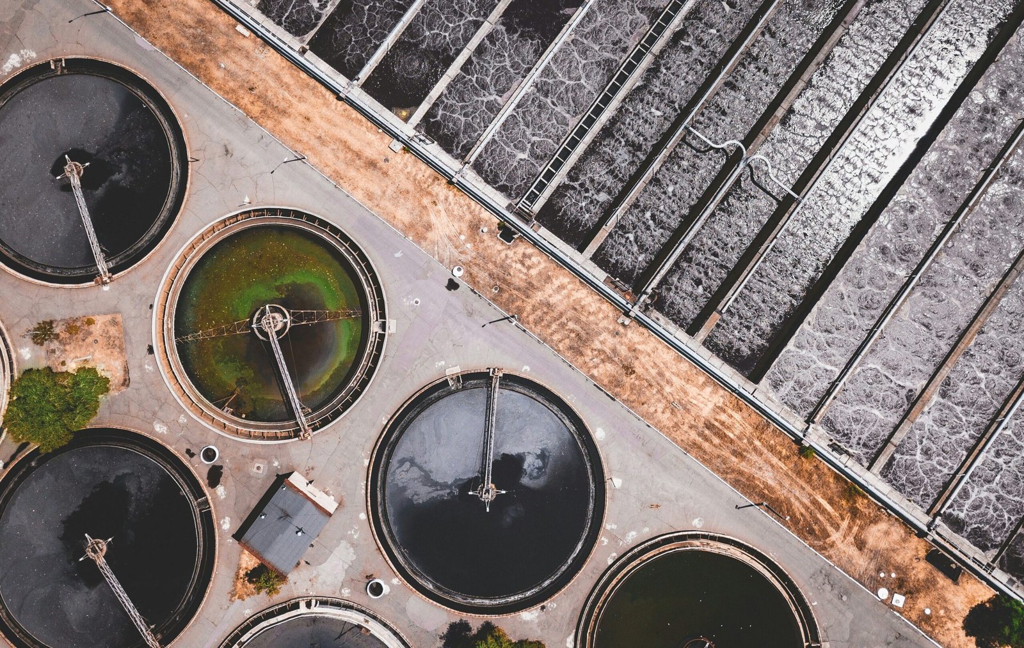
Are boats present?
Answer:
No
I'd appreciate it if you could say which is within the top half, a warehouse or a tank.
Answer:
tank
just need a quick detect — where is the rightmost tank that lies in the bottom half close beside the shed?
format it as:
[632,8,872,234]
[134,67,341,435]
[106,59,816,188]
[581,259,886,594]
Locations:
[362,368,610,614]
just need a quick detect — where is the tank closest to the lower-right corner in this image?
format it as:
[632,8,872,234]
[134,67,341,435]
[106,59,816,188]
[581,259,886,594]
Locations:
[576,531,822,648]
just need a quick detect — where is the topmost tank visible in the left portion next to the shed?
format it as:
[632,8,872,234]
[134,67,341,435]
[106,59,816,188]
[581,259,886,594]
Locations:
[151,207,398,444]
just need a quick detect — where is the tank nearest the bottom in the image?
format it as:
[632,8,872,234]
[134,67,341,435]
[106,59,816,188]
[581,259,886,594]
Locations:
[219,596,413,648]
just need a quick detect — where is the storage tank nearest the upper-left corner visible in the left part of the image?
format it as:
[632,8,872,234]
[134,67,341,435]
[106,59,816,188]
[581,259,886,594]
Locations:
[0,54,192,288]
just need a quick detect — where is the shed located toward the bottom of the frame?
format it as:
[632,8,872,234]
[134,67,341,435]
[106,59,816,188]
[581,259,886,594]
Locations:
[238,468,341,577]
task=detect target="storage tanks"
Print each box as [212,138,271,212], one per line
[0,435,217,648]
[151,207,398,444]
[219,596,413,648]
[0,54,192,288]
[362,368,610,614]
[576,531,822,648]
